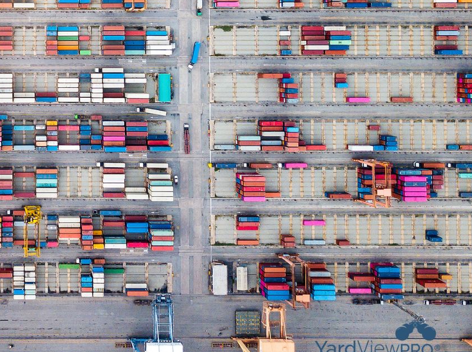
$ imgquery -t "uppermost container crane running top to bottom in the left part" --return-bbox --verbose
[20,206,44,258]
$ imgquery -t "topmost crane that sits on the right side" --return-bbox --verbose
[353,158,393,207]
